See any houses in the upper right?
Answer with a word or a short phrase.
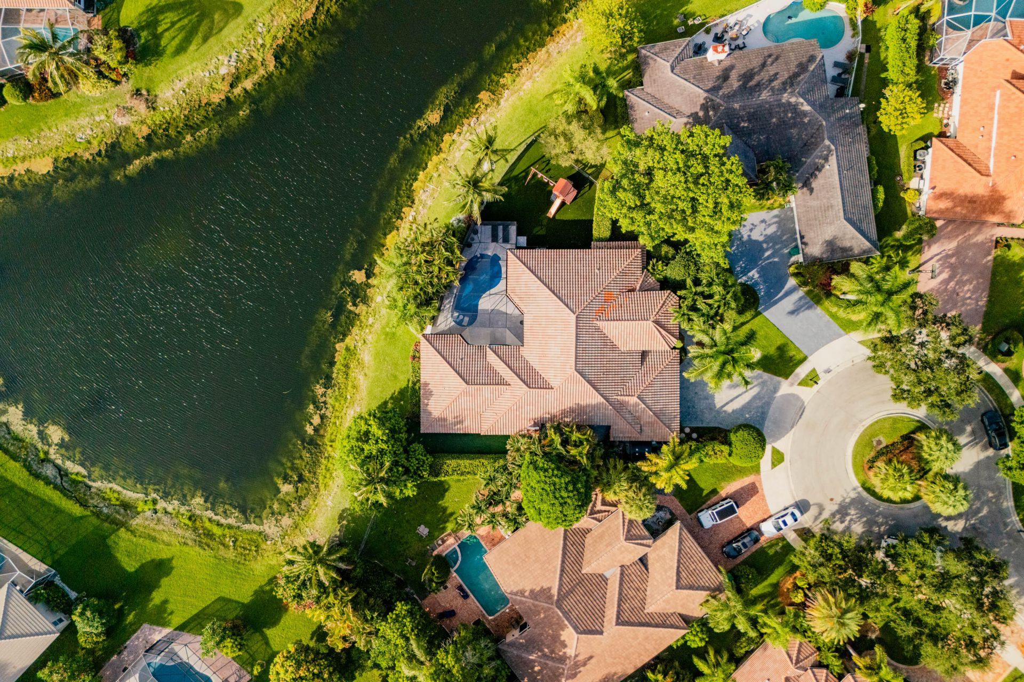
Yes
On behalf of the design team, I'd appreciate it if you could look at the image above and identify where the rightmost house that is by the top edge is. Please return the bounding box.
[917,20,1024,225]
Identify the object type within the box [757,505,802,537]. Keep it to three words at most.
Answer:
car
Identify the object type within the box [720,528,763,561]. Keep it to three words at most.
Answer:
car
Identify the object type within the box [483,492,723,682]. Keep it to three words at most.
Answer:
house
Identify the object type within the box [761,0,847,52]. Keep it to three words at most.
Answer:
swimming pool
